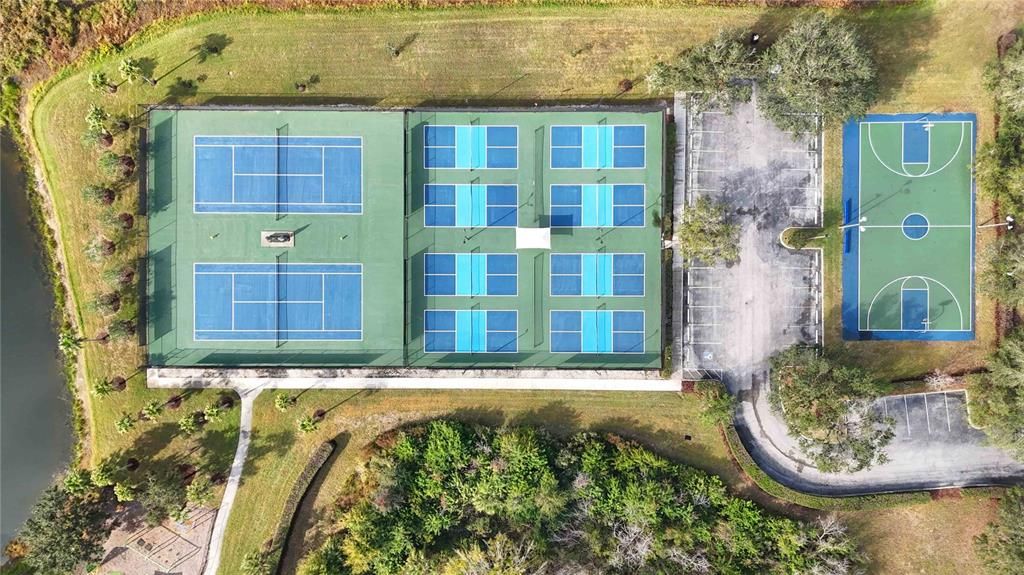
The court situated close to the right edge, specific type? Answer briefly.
basketball court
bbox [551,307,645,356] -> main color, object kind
blue sports court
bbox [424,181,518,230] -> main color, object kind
blue sports court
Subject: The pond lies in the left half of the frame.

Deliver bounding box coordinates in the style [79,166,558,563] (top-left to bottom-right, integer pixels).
[0,131,73,540]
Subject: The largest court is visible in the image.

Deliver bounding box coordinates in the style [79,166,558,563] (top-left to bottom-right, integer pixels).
[843,113,975,340]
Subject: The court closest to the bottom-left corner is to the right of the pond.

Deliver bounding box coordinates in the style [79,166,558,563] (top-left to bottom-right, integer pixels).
[193,257,362,348]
